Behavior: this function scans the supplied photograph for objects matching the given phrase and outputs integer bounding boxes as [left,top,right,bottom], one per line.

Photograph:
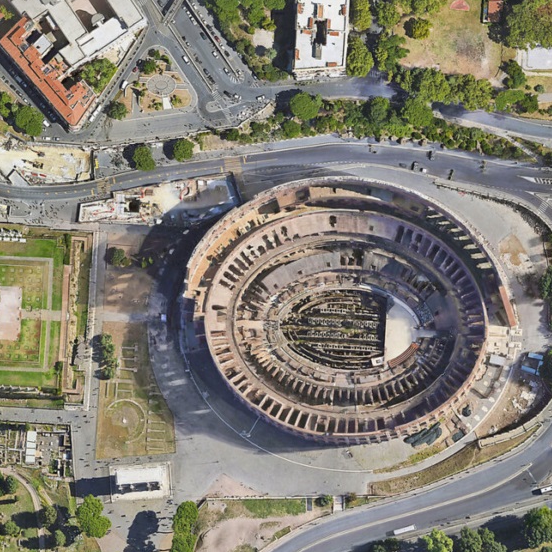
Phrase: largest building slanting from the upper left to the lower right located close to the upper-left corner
[1,16,98,134]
